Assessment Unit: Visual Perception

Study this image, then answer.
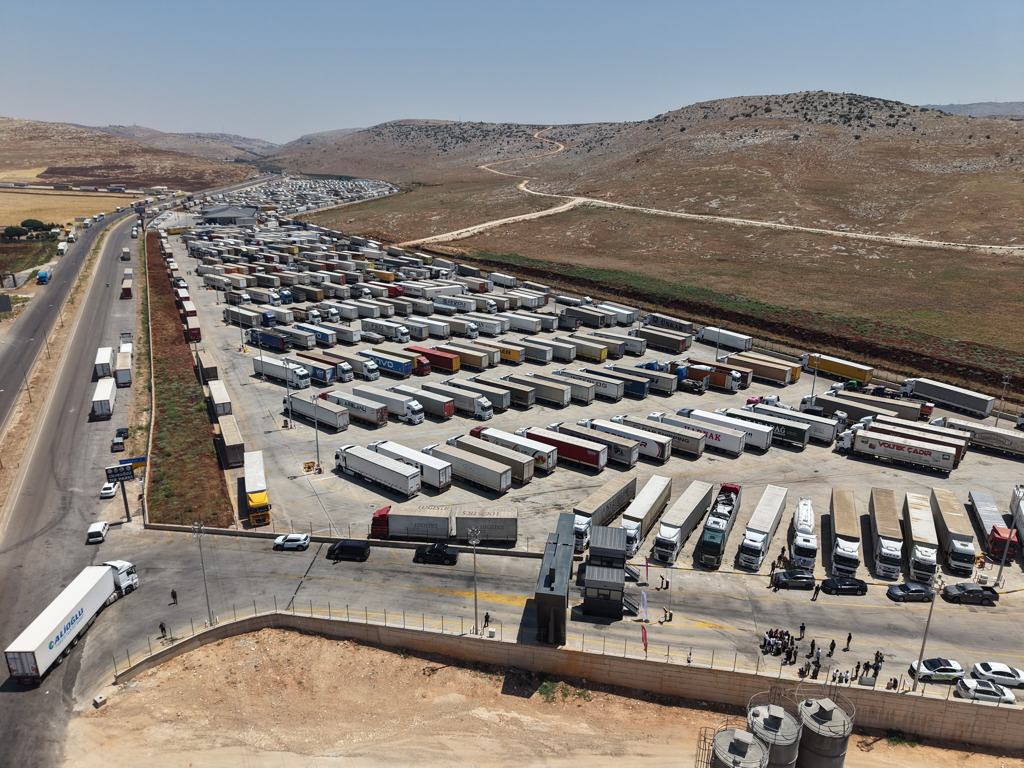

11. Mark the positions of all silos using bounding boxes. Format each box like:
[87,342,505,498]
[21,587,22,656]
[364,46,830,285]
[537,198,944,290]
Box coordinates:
[744,676,810,768]
[794,668,861,768]
[696,717,770,768]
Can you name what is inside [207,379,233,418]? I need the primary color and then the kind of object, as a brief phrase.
white truck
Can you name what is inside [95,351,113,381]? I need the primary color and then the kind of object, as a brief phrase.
white vehicle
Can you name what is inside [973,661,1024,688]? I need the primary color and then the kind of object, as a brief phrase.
white car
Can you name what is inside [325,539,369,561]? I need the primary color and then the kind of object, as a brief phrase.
black vehicle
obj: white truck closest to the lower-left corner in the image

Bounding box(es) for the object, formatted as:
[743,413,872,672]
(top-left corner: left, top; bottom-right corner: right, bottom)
[5,559,145,683]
